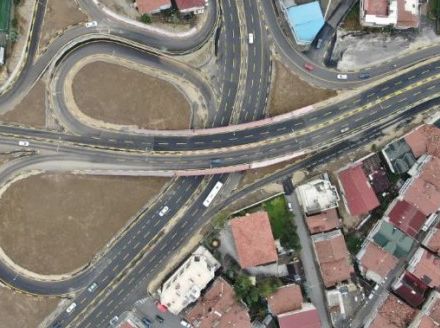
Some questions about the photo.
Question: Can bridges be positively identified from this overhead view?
Yes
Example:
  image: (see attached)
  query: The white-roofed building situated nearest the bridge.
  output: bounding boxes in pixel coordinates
[293,178,340,213]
